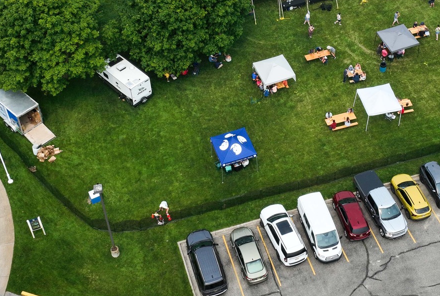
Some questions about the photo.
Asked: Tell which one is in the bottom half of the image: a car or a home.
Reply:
car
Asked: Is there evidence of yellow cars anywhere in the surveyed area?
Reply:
Yes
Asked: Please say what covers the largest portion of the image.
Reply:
grass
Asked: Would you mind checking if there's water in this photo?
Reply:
No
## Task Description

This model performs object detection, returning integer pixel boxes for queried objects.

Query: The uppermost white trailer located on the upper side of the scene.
[95,55,157,113]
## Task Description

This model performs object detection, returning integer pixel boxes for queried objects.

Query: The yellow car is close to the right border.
[387,167,437,227]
